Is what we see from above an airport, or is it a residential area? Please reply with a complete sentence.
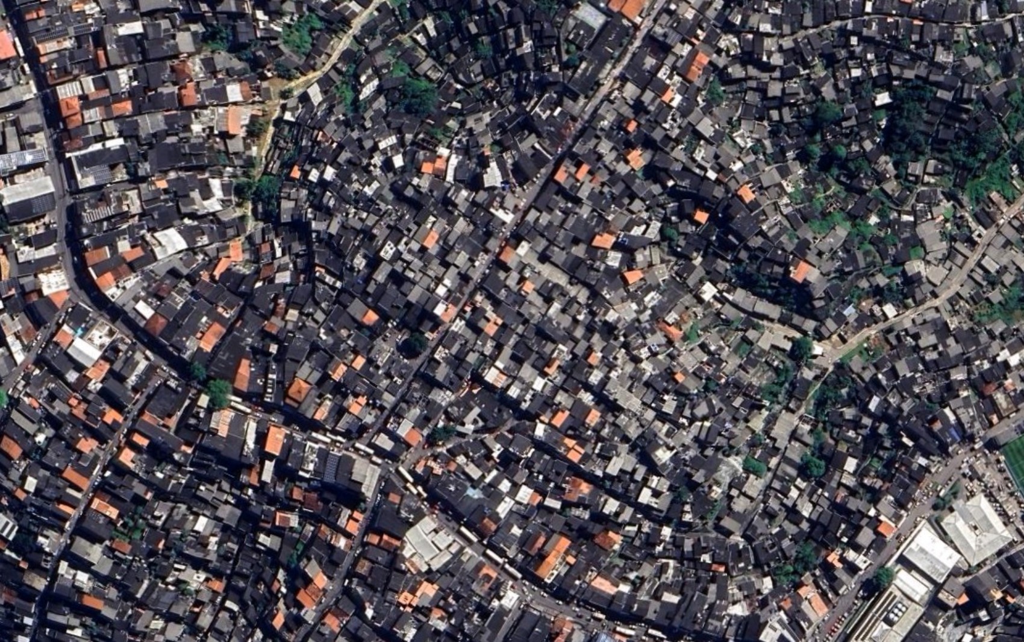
This looks like a residential area.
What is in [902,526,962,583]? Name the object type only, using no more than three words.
building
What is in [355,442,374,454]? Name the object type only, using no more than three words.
vehicle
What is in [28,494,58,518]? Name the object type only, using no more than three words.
house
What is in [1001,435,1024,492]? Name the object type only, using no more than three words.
soccer field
